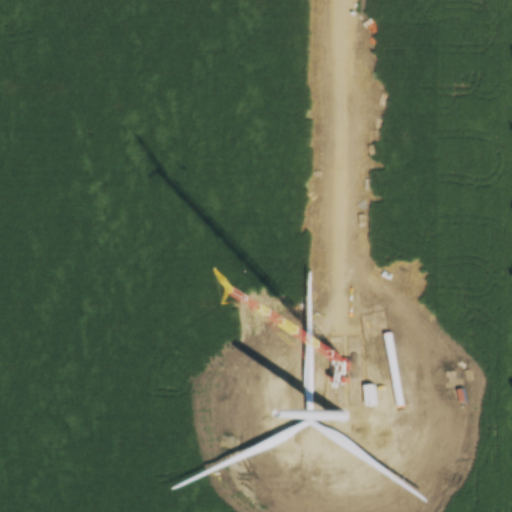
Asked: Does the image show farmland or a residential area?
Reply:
farmland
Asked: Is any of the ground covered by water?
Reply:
No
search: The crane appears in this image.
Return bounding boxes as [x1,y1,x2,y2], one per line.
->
[212,265,352,388]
